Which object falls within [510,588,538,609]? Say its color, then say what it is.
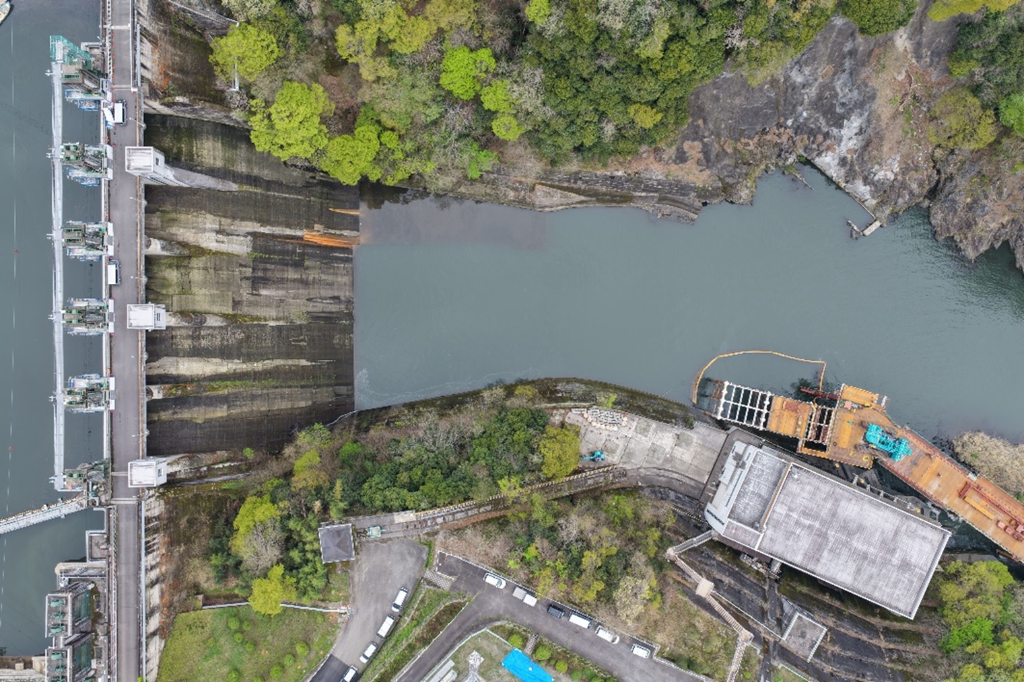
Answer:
white truck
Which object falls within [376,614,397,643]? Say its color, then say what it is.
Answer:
white vehicle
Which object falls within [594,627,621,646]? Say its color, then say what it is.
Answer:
white car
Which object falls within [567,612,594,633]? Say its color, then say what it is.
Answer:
white vehicle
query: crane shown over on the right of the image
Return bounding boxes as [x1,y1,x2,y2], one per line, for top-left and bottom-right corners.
[855,417,912,462]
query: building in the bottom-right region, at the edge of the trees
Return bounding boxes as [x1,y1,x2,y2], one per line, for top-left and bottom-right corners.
[698,441,953,621]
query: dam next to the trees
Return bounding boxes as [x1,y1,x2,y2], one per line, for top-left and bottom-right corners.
[94,0,361,682]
